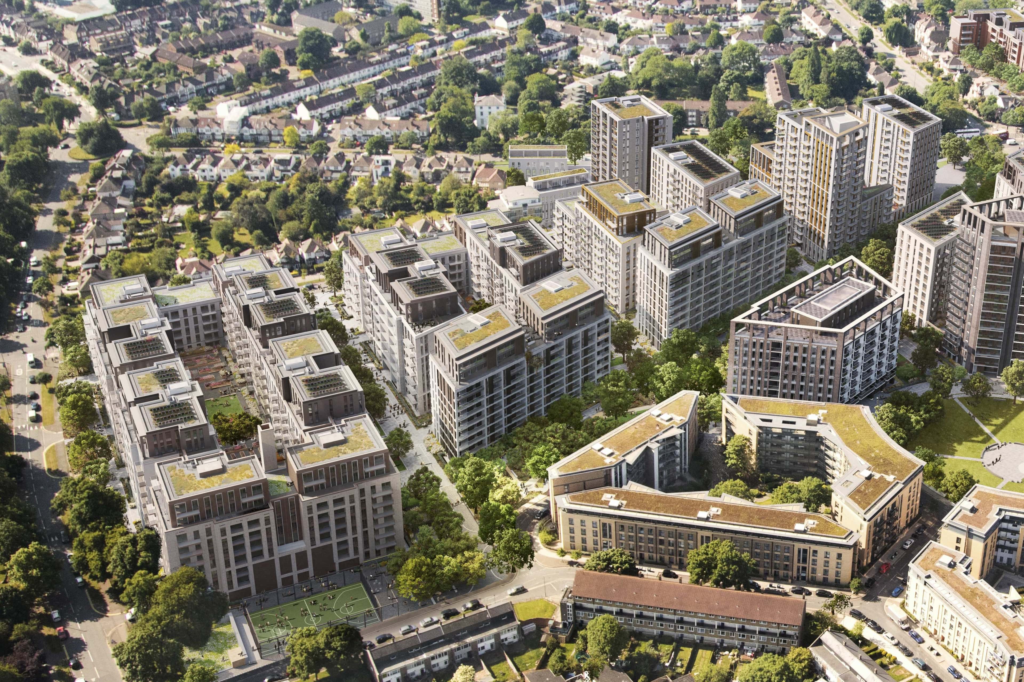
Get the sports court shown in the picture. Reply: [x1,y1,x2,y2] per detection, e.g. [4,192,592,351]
[242,581,382,659]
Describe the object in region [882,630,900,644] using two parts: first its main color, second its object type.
white car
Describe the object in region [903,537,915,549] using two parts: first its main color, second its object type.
gray vehicle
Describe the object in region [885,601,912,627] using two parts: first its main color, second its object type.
white truck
